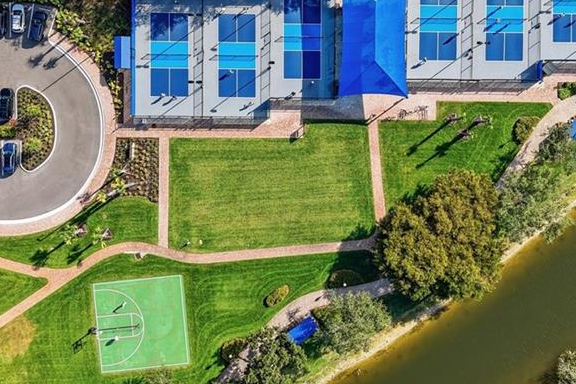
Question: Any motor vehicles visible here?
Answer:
Yes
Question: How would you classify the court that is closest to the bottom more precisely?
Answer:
basketball court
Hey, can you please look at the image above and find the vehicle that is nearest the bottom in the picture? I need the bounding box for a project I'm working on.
[2,142,18,173]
